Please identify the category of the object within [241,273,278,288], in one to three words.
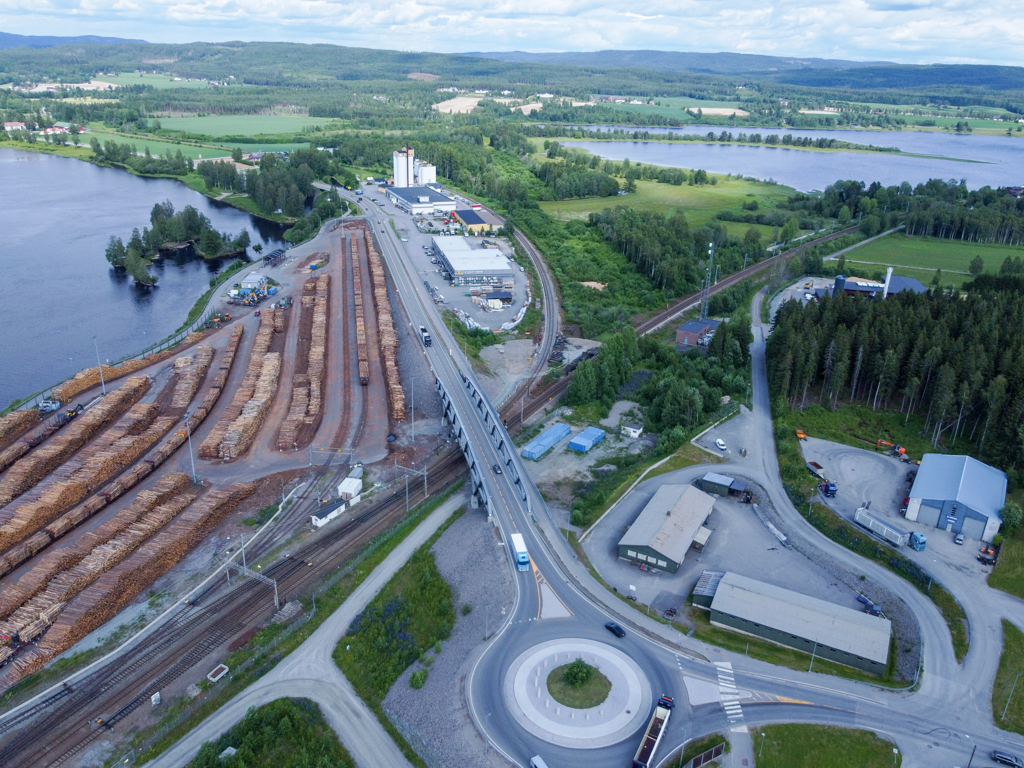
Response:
building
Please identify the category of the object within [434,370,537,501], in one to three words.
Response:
bridge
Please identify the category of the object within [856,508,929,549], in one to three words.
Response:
truck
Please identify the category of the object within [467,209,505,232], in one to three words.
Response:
building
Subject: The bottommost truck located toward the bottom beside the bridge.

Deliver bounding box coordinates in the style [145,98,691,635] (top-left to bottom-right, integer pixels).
[509,520,530,567]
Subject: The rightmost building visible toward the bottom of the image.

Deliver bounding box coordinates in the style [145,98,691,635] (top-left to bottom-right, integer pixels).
[905,453,1012,542]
